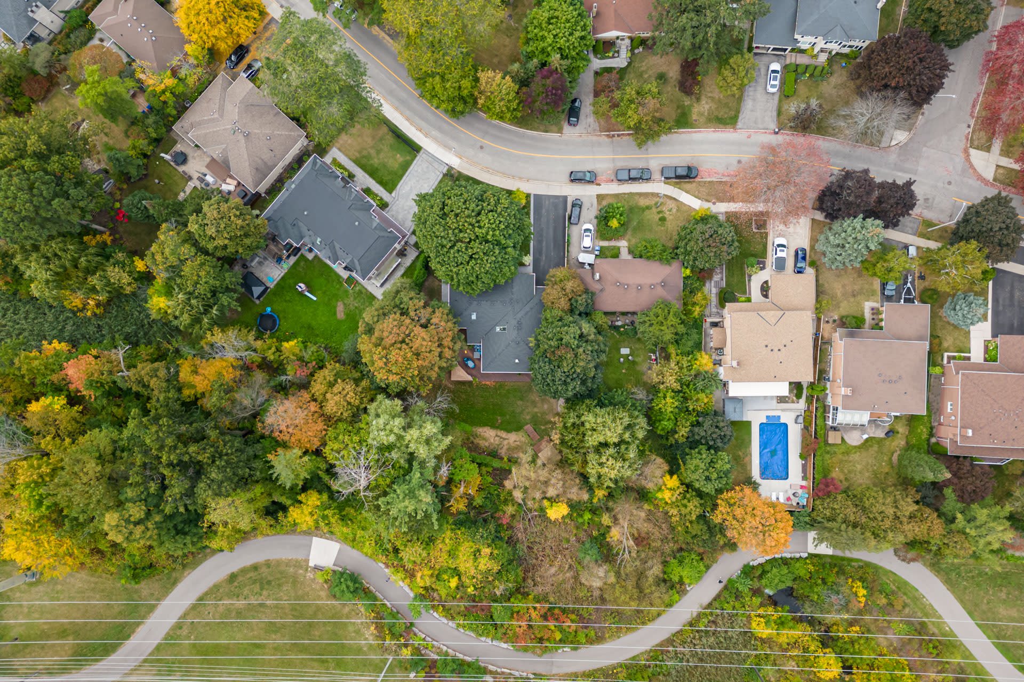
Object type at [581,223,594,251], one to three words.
vehicle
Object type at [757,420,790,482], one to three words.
swimming pool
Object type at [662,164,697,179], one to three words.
vehicle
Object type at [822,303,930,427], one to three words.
house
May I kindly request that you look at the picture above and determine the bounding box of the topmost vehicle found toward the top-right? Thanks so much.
[766,62,782,92]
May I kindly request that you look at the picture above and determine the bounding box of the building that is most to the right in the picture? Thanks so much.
[933,335,1024,465]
